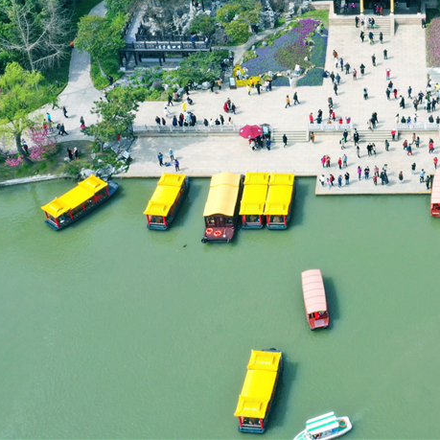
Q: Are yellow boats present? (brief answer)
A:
Yes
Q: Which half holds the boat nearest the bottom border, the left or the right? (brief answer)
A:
right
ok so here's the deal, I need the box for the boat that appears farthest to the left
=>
[39,175,113,236]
